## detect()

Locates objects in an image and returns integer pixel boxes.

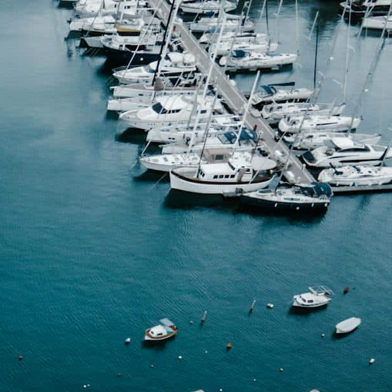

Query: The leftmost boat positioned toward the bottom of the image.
[145,321,179,344]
